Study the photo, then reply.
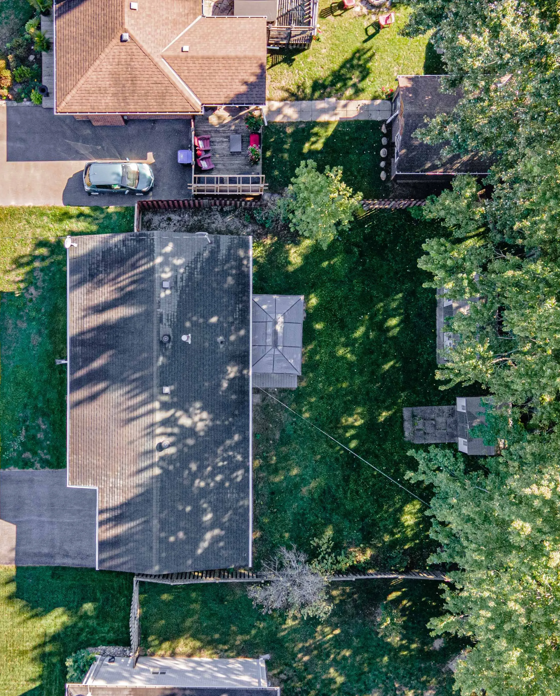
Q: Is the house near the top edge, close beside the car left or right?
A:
left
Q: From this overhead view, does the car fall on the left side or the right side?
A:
left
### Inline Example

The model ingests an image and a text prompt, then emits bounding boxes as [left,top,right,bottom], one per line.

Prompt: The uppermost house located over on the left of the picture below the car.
[65,232,253,574]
